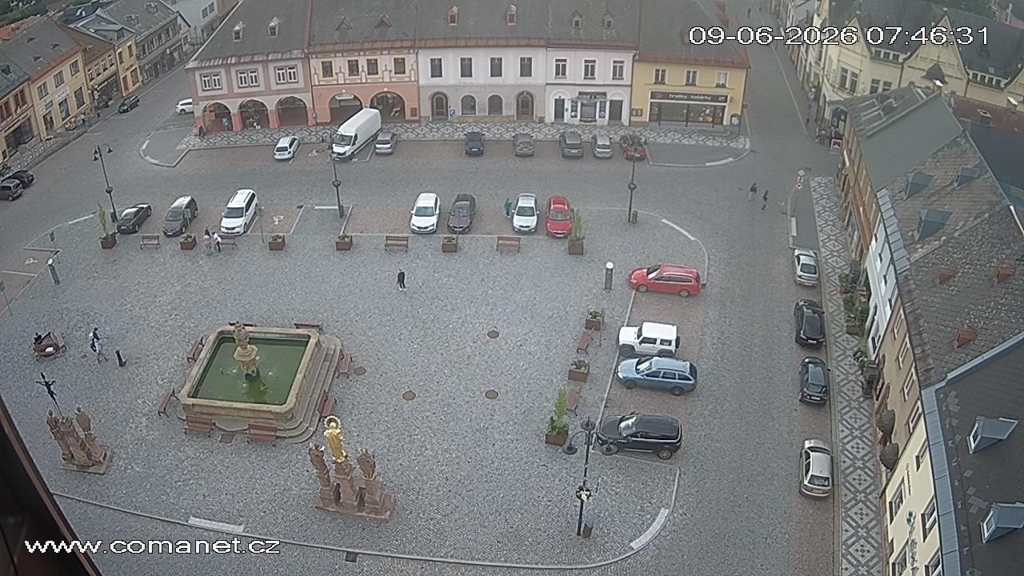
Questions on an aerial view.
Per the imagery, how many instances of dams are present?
0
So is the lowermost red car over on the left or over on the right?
right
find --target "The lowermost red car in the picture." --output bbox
[632,266,700,297]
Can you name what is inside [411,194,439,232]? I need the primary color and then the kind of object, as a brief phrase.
white car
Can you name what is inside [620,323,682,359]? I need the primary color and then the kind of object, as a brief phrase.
white car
